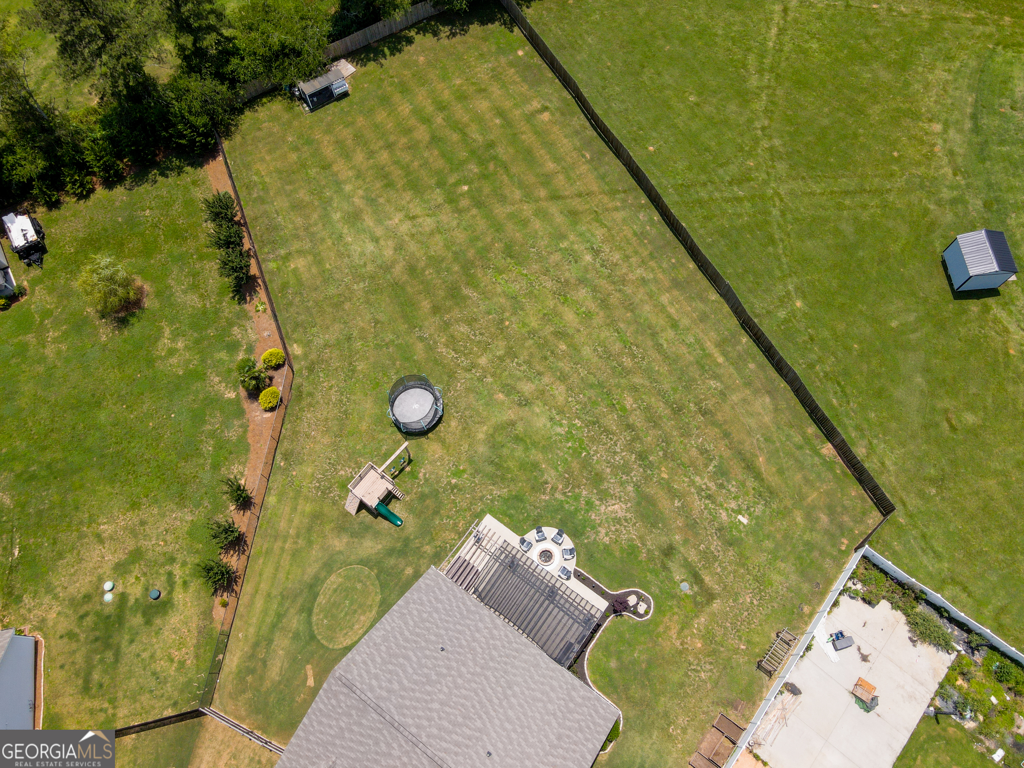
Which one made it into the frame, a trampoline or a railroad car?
trampoline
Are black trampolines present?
No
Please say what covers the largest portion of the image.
grass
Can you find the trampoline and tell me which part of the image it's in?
center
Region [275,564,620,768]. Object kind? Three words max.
house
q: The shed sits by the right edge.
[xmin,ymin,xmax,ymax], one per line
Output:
[941,228,1018,291]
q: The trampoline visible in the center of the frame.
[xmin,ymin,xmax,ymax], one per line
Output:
[386,375,445,439]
